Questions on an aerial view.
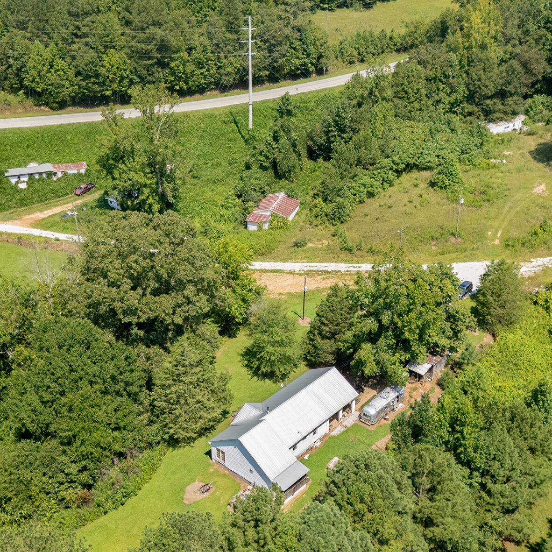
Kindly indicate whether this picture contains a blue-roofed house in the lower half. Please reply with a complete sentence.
No, there is no blue-roofed house in the lower half.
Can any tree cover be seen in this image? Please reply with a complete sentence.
Yes, there is tree cover in the image.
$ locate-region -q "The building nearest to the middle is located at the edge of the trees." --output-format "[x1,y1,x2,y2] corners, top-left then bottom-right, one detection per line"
[245,193,300,231]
